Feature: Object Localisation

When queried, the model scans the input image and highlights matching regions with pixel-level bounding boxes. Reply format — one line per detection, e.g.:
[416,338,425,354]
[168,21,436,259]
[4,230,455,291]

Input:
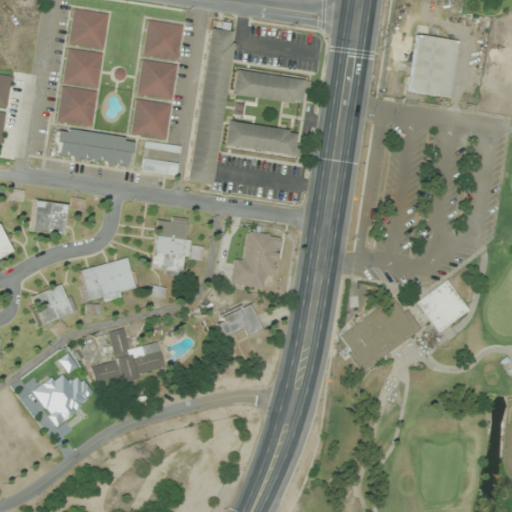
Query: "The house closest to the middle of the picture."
[230,233,282,288]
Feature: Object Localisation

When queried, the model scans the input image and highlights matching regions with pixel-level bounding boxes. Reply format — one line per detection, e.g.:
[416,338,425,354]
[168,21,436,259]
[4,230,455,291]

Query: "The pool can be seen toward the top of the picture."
[101,92,126,122]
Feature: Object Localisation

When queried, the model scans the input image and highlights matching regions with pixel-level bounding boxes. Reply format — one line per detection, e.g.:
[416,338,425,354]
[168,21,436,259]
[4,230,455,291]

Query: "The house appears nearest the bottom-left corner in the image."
[32,374,92,426]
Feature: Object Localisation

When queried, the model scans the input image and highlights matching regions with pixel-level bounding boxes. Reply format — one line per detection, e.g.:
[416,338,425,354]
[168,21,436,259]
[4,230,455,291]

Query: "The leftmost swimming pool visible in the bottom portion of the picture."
[162,333,196,364]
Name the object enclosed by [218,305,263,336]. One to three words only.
house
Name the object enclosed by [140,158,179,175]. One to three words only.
shed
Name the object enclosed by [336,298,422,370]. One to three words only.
building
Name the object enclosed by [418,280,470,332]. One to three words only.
barn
